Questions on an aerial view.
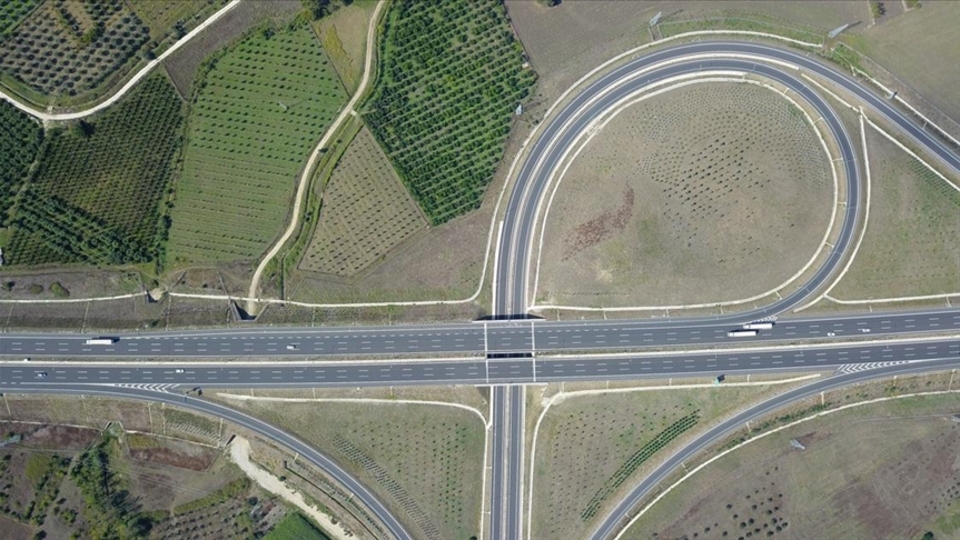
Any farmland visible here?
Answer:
Yes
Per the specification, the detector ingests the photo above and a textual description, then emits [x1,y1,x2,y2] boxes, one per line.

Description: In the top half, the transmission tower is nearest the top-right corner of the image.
[827,21,856,41]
